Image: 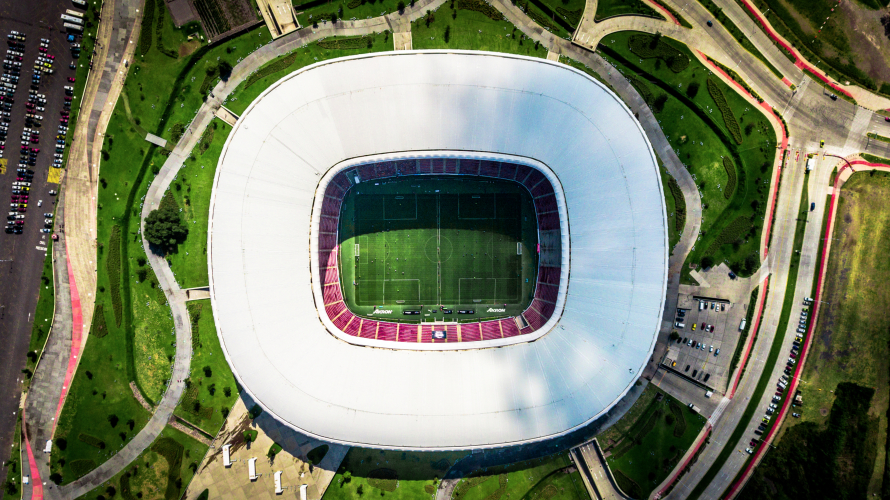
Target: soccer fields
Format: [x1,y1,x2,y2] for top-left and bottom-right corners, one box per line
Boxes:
[340,176,538,324]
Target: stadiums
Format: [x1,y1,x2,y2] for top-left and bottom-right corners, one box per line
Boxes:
[209,50,668,450]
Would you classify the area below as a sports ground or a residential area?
sports ground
